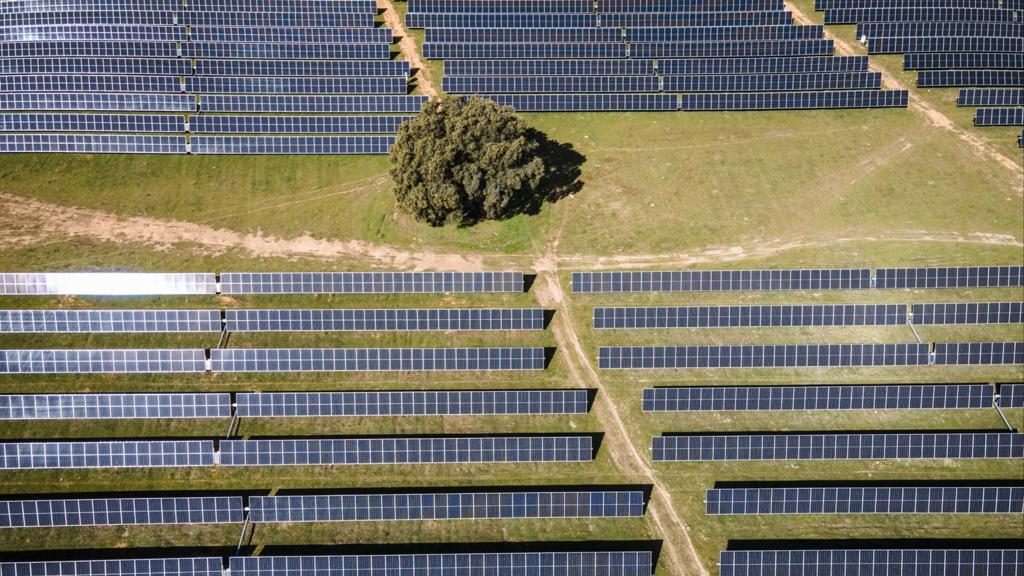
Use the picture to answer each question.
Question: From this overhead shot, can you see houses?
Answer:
No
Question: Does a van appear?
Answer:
No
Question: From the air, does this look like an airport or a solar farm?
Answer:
solar farm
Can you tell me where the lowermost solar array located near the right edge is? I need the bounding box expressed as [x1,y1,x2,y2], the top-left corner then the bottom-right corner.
[717,549,1024,576]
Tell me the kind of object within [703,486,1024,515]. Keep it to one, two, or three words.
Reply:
solar array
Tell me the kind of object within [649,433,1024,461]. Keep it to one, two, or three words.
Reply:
solar array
